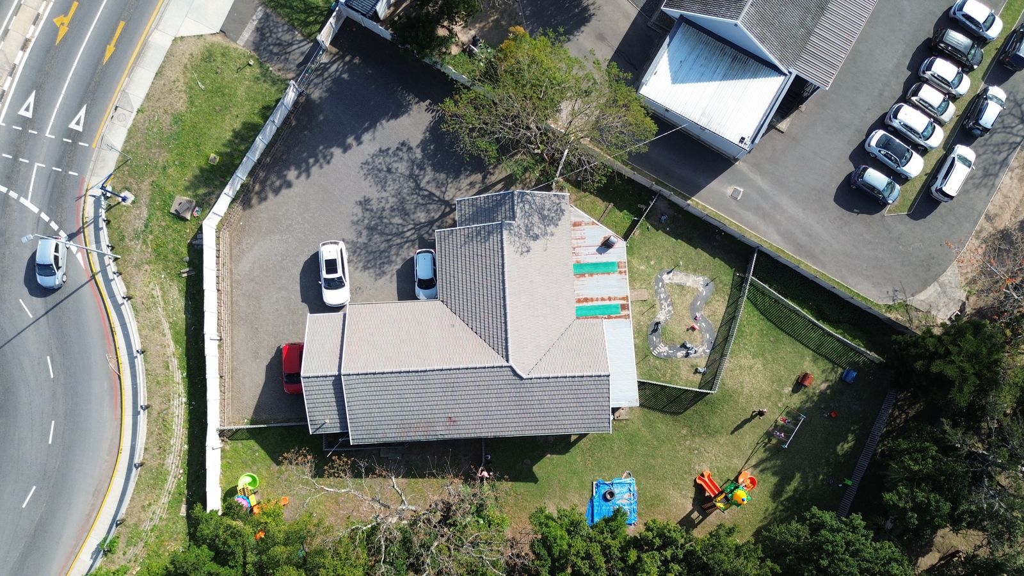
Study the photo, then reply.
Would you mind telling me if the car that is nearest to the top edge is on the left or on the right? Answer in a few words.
right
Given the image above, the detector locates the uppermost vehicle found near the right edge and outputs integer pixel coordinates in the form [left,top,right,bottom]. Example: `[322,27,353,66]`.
[944,0,1004,44]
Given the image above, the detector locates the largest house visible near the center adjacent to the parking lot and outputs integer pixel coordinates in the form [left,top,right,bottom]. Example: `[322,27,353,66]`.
[341,190,612,446]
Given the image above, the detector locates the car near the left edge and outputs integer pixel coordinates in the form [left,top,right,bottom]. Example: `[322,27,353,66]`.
[33,235,74,291]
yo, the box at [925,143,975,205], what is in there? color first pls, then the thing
white car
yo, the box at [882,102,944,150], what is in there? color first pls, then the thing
white car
